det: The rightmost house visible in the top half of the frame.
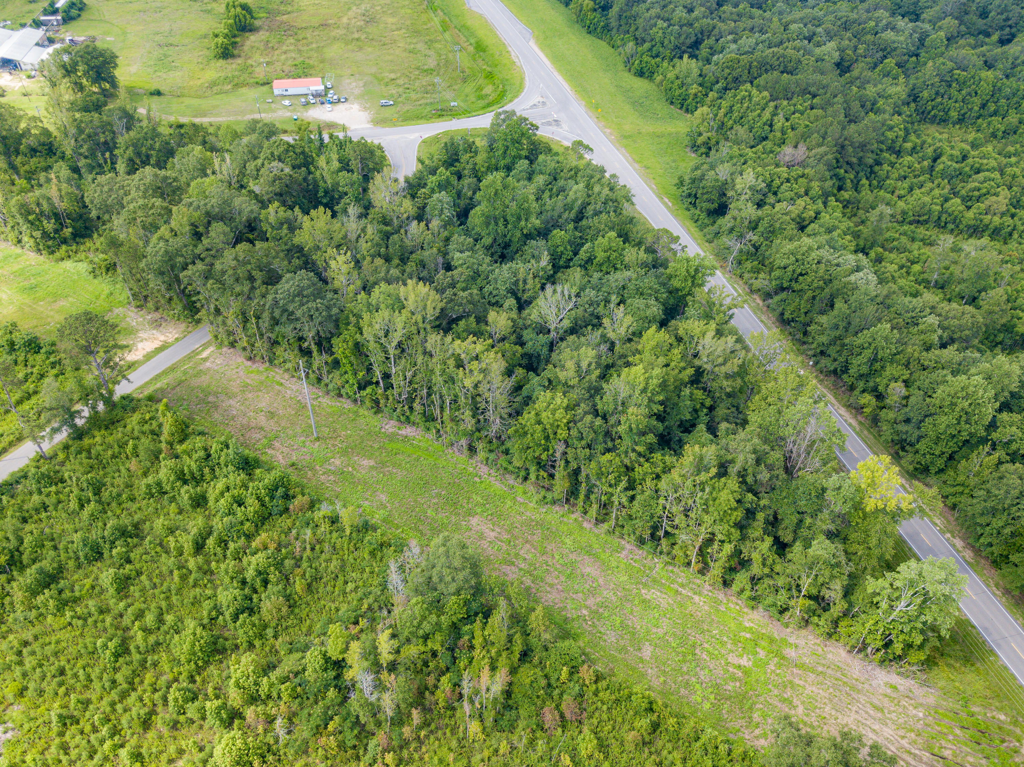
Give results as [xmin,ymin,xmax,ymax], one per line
[272,81,326,100]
